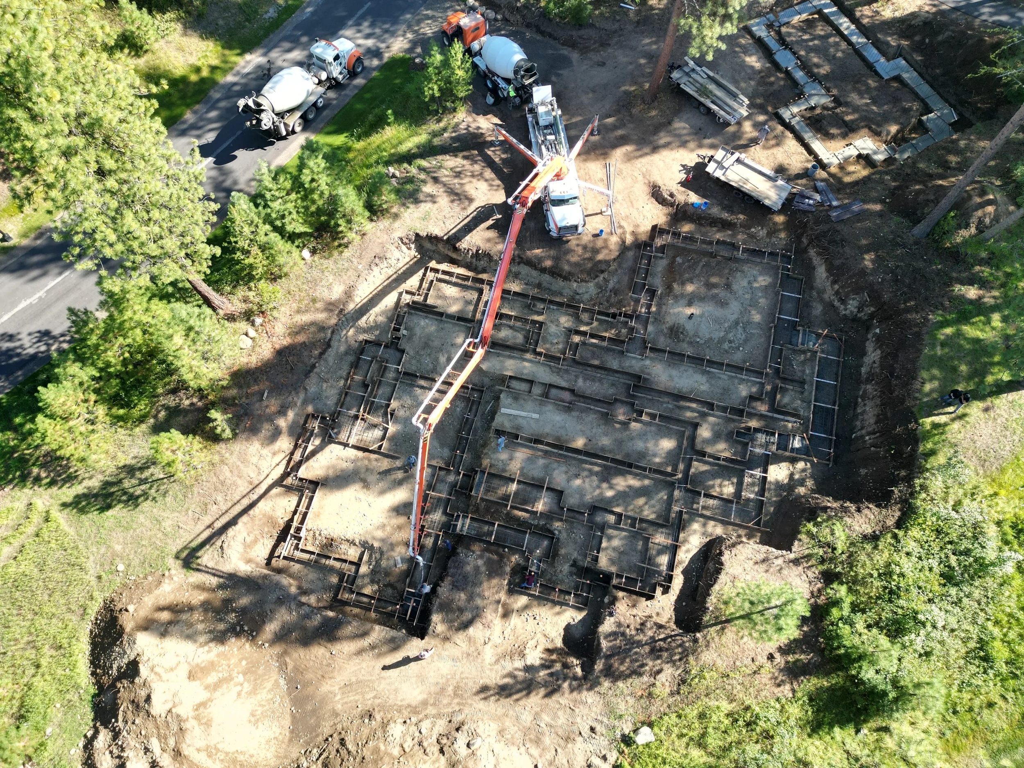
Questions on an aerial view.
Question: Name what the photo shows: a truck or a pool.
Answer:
truck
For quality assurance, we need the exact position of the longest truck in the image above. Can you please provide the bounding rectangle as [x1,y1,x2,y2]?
[404,64,615,584]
